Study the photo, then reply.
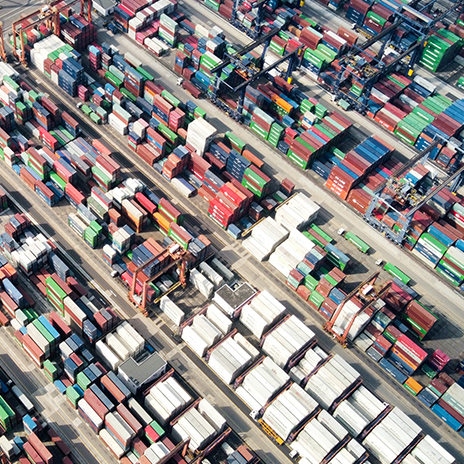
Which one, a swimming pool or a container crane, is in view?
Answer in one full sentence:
The one in the frame is a container crane.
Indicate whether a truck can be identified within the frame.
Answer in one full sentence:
Yes, there's a truck down there.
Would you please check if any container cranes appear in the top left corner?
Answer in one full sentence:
Yes, a container crane appears in the top left corner.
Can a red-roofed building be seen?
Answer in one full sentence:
No, there is no red-roofed building in the image.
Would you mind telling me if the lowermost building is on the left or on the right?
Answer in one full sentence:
You can find the lowermost building on the left side of the picture.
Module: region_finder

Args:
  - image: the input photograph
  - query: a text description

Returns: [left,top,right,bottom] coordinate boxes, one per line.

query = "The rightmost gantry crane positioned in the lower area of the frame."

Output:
[325,267,397,342]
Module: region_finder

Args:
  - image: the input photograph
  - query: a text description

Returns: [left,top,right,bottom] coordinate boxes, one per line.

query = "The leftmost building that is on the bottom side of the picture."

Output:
[118,352,167,394]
